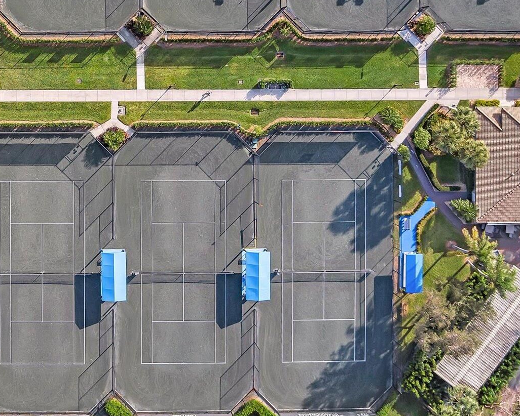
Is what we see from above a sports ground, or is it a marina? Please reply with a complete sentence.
What you see here is a sports ground.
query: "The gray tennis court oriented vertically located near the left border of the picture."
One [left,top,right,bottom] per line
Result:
[0,132,114,412]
